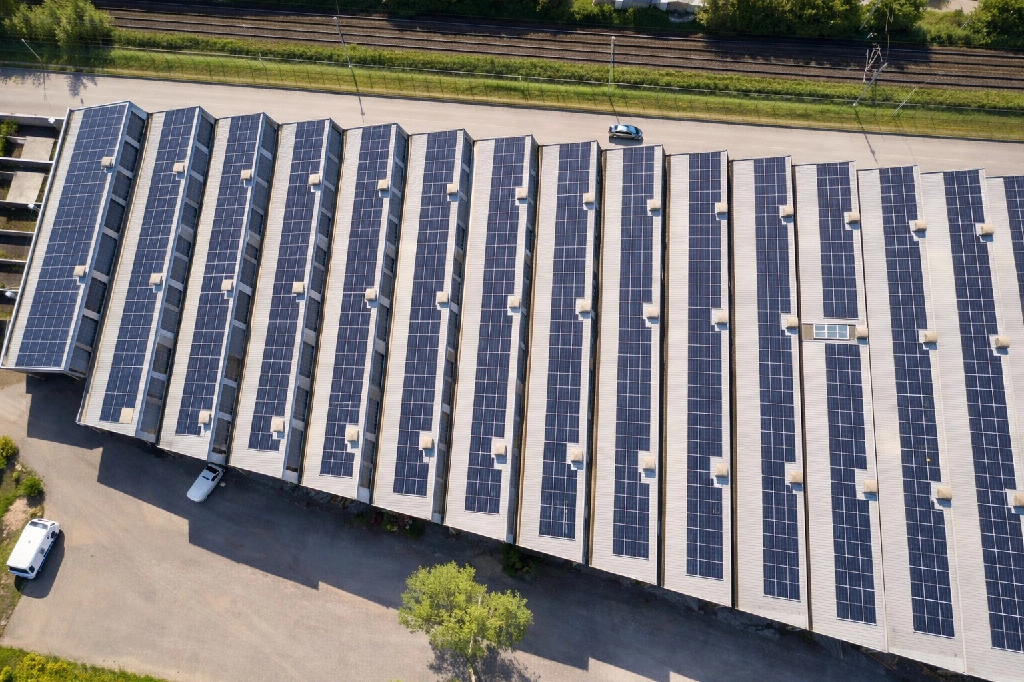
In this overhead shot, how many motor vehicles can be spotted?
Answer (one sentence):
Looking from above, you can make out 3 motor vehicles.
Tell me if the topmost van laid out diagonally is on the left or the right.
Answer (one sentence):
The topmost van laid out diagonally sits on the left side.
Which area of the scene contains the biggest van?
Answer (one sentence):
The biggest van is located in the bottom left region of the scene.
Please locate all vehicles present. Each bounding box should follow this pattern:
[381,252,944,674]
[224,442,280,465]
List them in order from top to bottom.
[606,122,644,142]
[187,468,226,509]
[8,523,57,583]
